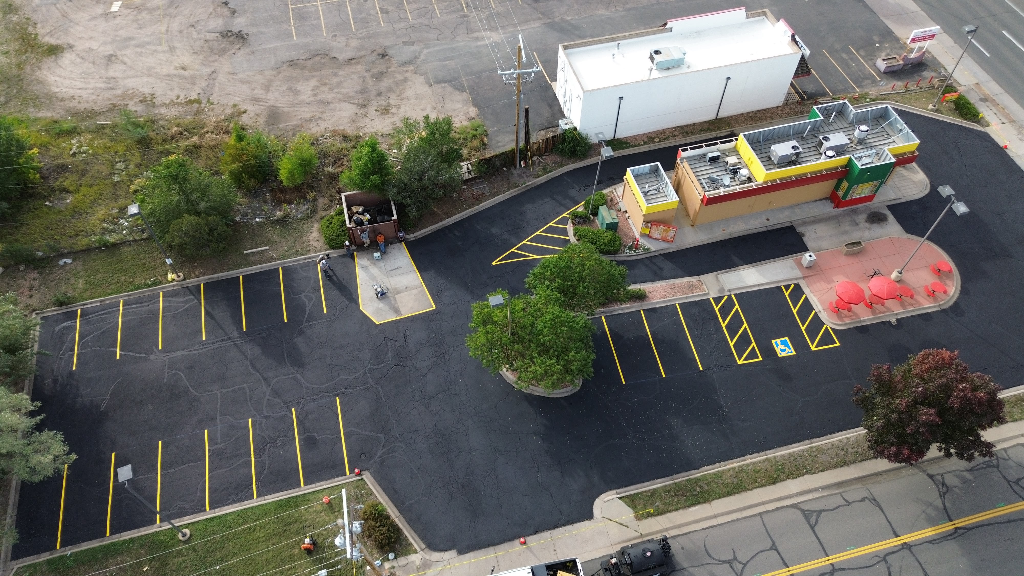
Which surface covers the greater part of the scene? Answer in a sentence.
The largest share of the image is taken up by paved ground.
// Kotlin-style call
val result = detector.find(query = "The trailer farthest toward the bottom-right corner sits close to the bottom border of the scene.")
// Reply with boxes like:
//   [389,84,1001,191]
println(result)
[582,534,676,576]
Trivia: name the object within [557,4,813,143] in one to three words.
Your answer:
building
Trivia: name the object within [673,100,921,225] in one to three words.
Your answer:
building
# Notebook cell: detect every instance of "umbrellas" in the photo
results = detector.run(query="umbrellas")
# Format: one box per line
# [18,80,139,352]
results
[834,282,869,308]
[868,276,903,303]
